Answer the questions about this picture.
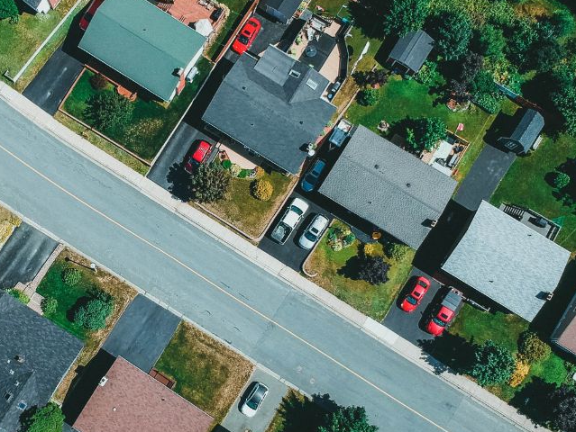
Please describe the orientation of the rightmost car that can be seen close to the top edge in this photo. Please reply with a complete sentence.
The rightmost car that can be seen close to the top edge has been laid out on a diagonal relative to the frame.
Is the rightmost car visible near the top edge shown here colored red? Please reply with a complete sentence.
Yes, the rightmost car visible near the top edge is red.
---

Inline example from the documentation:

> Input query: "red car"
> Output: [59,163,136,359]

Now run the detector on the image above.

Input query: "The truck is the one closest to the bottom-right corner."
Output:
[426,285,466,336]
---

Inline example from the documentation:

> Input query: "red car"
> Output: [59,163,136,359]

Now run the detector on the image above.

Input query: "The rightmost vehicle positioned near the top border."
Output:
[232,18,262,54]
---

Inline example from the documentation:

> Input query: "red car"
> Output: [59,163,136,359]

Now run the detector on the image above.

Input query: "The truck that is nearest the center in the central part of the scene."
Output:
[273,197,308,245]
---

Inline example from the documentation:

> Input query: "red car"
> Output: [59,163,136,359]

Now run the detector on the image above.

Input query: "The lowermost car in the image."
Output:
[241,380,268,419]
